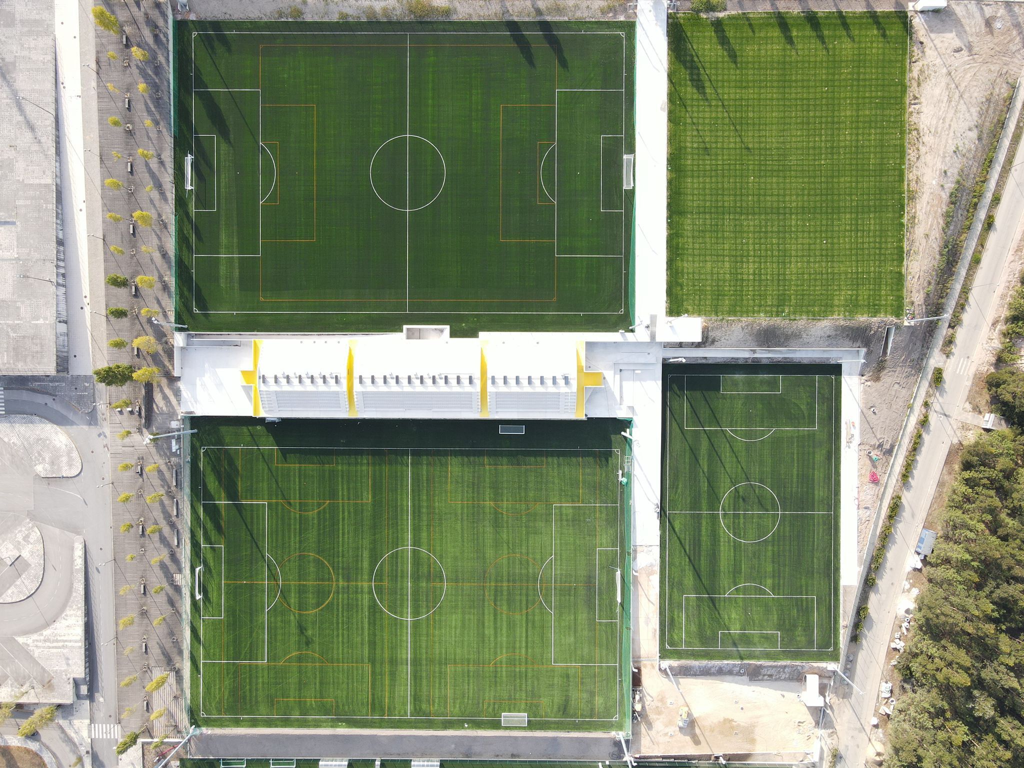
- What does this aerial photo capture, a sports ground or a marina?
sports ground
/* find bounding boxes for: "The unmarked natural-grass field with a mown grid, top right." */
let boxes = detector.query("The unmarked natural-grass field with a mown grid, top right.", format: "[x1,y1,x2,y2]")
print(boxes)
[666,10,909,318]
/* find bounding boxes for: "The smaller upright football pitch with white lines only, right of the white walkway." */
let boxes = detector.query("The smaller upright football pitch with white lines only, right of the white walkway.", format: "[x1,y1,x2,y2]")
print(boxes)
[660,364,842,662]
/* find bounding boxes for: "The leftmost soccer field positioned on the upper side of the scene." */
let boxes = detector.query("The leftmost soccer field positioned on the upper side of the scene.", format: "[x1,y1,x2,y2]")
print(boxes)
[175,21,635,338]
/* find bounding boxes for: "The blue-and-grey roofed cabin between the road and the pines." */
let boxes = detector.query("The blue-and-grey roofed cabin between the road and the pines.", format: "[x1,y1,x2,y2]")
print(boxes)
[914,530,941,560]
